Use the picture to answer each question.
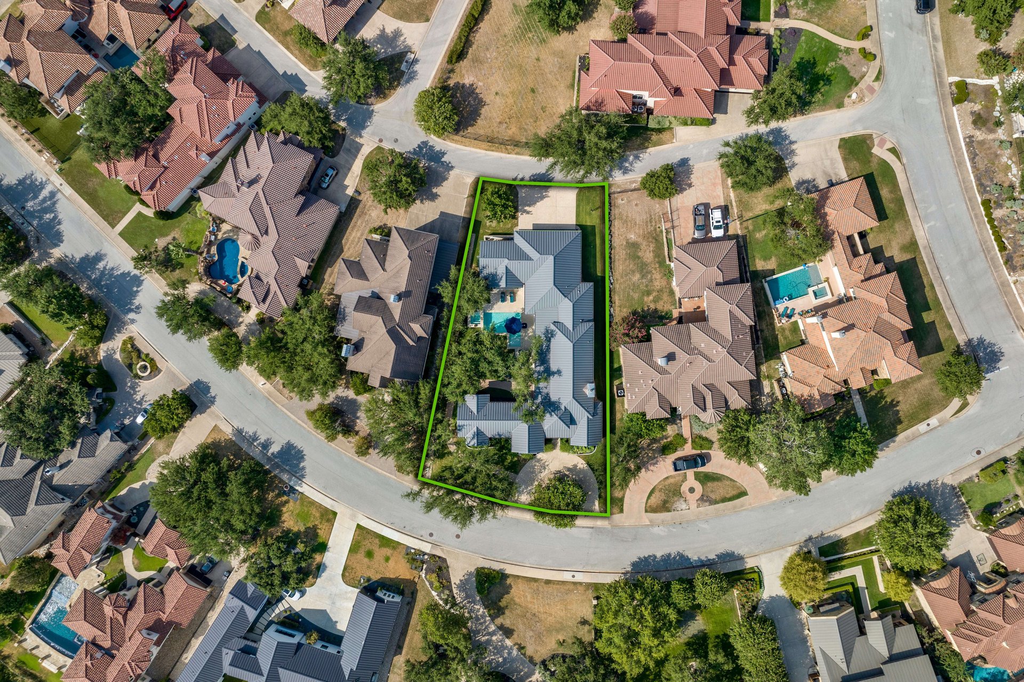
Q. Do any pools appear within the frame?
Yes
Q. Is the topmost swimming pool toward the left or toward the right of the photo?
left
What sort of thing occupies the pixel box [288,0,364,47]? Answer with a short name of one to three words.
house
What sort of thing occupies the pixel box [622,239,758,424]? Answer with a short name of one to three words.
house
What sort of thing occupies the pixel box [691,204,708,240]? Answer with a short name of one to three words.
vehicle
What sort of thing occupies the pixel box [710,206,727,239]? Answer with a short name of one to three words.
car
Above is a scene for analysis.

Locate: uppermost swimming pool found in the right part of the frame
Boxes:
[765,263,833,308]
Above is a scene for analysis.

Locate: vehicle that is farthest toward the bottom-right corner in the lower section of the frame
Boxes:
[671,455,706,471]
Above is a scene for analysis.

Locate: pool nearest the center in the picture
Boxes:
[468,311,523,349]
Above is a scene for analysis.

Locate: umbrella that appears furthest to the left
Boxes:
[505,317,528,334]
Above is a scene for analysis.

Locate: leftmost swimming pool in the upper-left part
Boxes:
[100,43,140,70]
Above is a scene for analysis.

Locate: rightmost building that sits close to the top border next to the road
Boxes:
[580,0,770,120]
